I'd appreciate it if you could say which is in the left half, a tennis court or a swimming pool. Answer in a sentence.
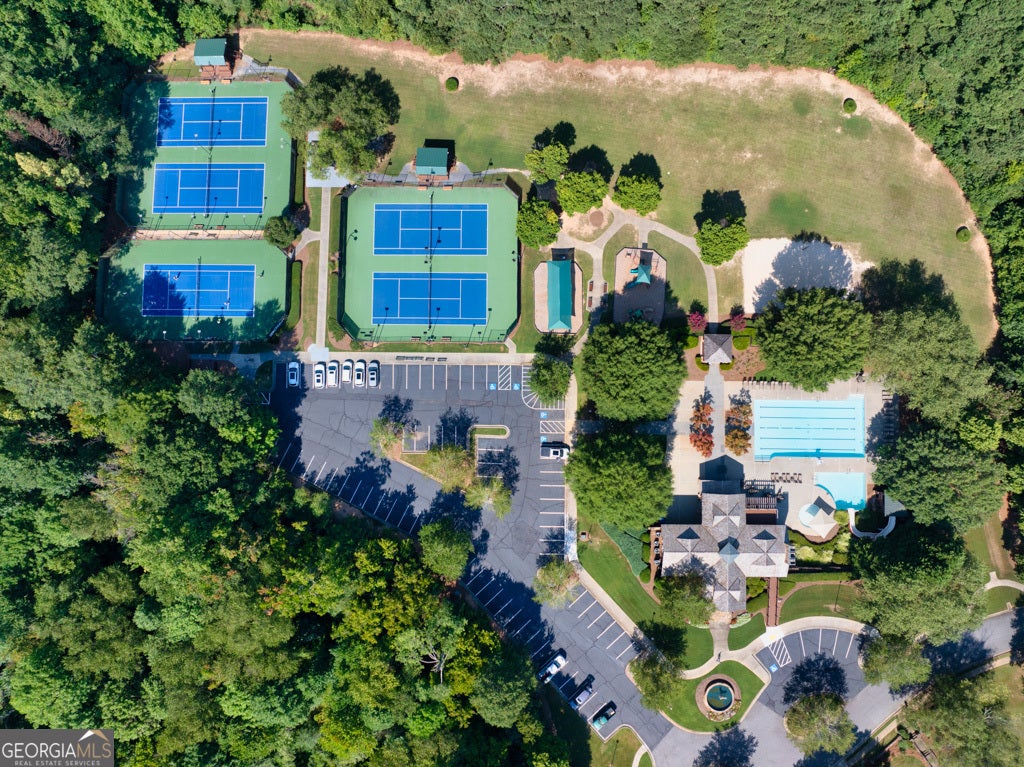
There is a tennis court in the left half.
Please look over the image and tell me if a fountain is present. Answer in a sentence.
Yes, you can see a fountain in this photo.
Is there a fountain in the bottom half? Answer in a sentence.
Yes, there is a fountain in the bottom half.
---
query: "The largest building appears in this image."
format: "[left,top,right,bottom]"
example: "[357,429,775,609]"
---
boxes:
[657,480,791,613]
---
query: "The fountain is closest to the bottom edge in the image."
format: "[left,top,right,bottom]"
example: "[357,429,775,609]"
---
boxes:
[696,674,742,714]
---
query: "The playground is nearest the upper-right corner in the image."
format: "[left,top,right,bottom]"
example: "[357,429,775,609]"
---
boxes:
[613,246,668,338]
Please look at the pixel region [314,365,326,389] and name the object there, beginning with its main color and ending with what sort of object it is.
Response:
white vehicle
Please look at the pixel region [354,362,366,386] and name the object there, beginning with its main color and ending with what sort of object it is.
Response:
white vehicle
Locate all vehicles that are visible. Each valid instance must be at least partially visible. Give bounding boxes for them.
[592,706,616,729]
[569,686,592,709]
[368,362,379,386]
[327,361,339,386]
[541,448,569,458]
[314,365,326,389]
[288,362,300,386]
[354,362,366,386]
[343,361,353,383]
[539,655,565,684]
